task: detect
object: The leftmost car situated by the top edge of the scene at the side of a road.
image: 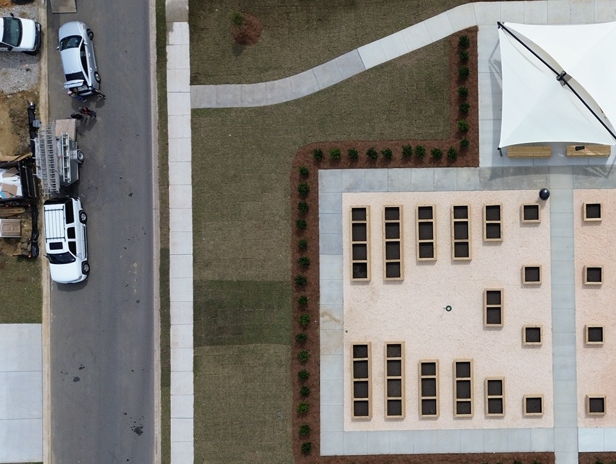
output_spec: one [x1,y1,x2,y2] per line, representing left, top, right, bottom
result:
[0,12,44,56]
